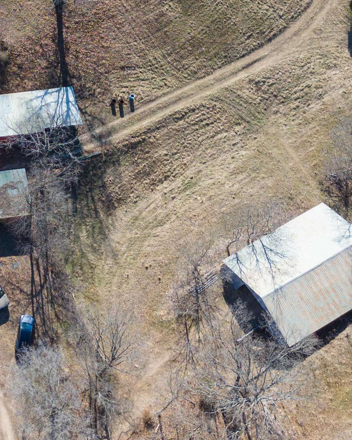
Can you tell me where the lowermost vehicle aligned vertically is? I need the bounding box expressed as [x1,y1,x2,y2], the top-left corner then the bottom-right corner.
[11,314,33,357]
